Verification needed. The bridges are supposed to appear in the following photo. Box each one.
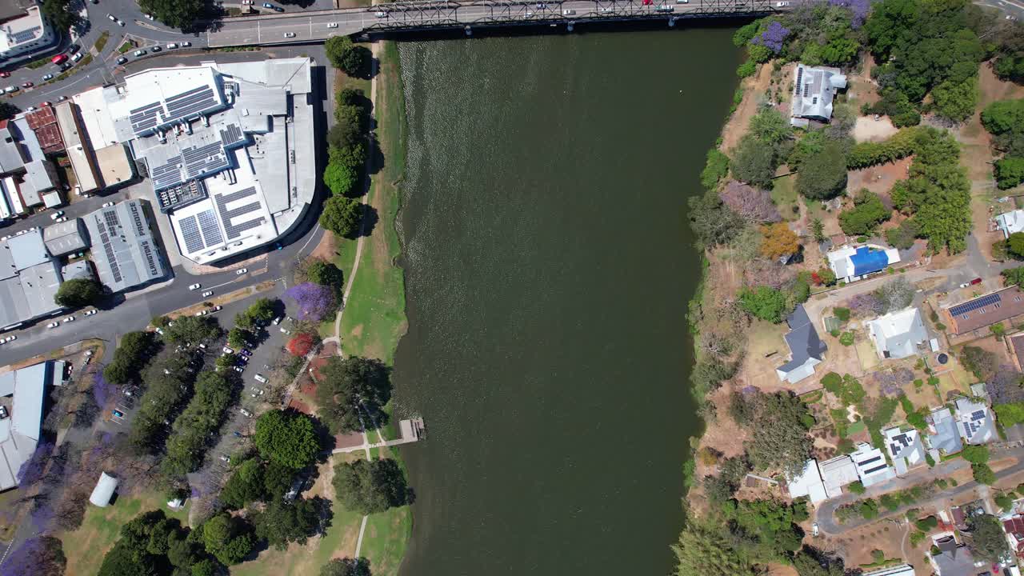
[188,0,875,49]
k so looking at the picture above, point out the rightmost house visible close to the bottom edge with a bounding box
[996,508,1024,565]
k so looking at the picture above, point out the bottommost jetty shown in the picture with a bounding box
[395,417,424,444]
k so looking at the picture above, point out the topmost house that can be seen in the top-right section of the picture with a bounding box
[788,66,847,127]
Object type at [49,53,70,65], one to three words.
vehicle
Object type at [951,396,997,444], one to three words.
house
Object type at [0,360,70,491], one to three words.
building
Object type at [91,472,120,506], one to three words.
shed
